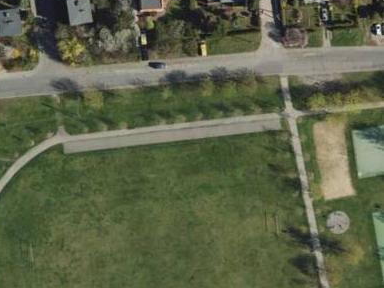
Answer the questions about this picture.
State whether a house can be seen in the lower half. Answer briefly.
No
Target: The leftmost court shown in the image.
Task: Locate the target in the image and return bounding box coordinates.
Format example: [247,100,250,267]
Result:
[314,119,356,201]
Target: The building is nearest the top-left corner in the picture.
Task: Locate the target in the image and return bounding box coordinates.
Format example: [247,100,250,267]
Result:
[0,8,24,39]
